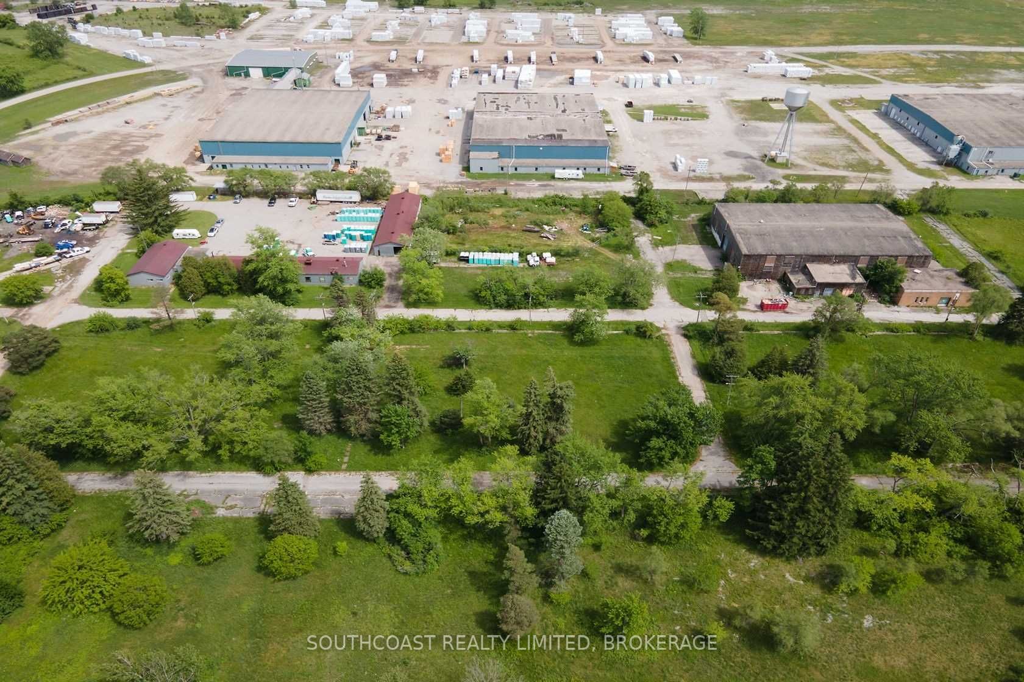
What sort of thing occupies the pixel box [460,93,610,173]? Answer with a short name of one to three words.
building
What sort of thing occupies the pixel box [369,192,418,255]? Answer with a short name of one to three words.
building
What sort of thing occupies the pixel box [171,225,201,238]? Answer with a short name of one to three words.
vehicle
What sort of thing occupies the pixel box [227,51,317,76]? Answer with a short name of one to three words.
barn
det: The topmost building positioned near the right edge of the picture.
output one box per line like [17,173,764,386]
[884,94,1024,176]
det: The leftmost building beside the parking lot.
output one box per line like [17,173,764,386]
[123,240,195,286]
